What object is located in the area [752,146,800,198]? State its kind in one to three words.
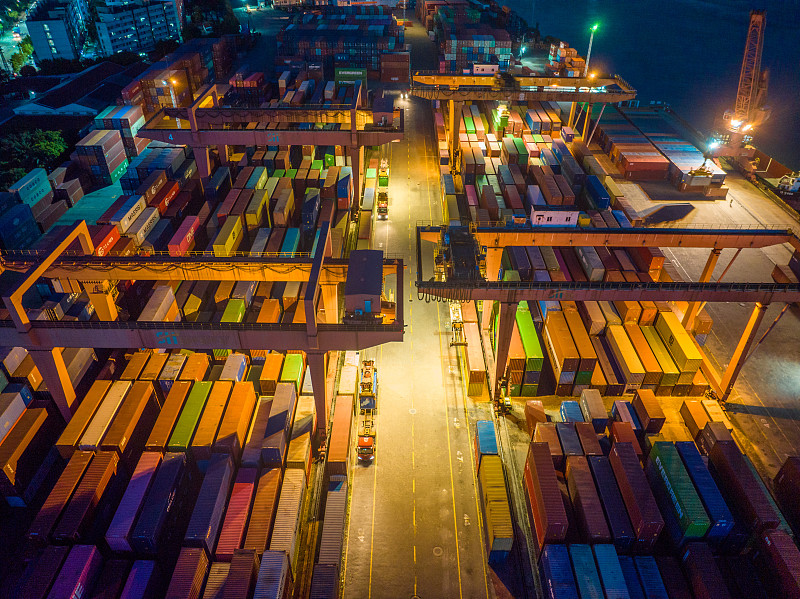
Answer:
ship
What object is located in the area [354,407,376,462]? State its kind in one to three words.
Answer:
truck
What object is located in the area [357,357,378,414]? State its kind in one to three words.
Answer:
truck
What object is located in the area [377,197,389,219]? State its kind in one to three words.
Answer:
vehicle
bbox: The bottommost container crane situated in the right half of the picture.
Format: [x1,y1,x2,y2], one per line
[418,204,800,408]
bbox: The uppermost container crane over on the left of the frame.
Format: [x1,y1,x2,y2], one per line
[130,80,402,220]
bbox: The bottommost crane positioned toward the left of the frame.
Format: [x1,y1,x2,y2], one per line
[0,223,402,457]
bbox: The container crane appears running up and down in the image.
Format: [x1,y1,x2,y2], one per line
[692,6,767,182]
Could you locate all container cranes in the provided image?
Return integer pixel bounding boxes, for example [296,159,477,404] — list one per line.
[130,80,402,220]
[0,223,402,457]
[692,6,767,182]
[412,59,640,174]
[418,204,800,408]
